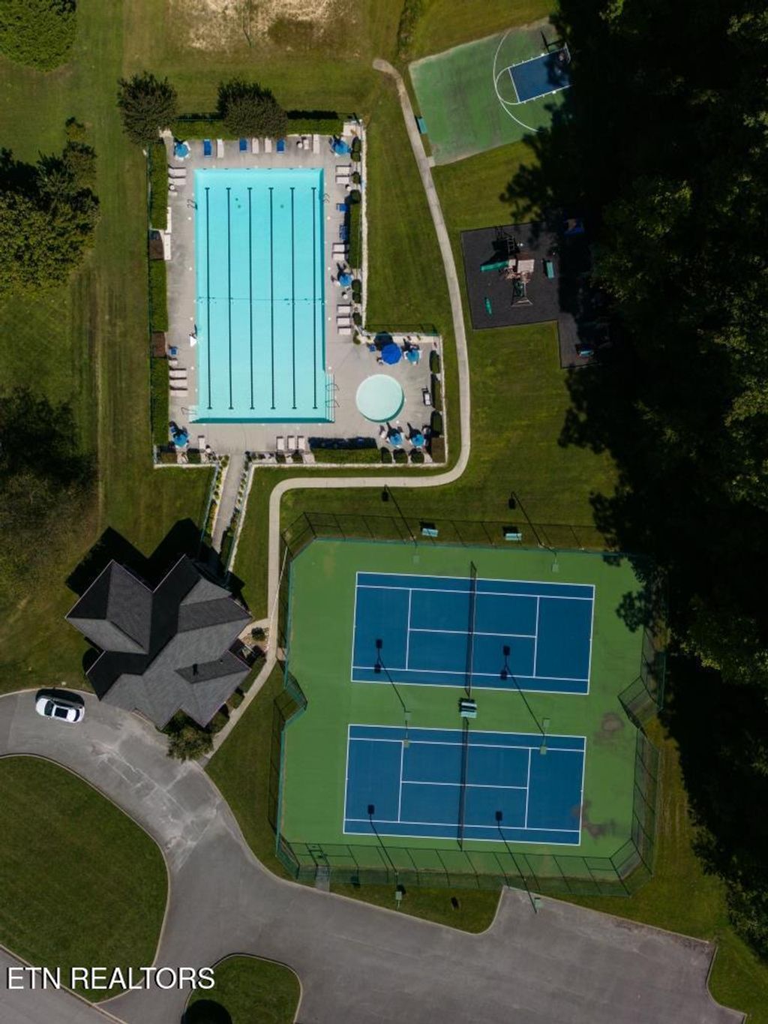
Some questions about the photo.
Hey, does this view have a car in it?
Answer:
Yes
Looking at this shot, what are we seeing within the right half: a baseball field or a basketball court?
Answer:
basketball court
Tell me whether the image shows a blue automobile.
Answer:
No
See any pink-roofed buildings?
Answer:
No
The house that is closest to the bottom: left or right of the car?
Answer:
on its right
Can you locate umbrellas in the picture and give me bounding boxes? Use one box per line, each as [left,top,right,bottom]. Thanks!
[337,273,353,289]
[172,430,189,447]
[174,143,191,160]
[334,140,350,157]
[405,349,421,365]
[387,430,403,447]
[379,344,402,367]
[409,432,425,448]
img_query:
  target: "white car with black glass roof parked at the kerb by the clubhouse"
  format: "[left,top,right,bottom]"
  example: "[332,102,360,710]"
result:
[33,696,81,723]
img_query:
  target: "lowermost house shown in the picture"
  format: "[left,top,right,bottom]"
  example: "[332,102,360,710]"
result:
[66,554,269,730]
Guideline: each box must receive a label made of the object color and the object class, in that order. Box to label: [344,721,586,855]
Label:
blue tennis court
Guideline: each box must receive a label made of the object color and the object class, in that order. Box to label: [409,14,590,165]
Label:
green basketball court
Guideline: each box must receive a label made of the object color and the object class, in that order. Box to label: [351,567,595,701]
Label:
blue tennis court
